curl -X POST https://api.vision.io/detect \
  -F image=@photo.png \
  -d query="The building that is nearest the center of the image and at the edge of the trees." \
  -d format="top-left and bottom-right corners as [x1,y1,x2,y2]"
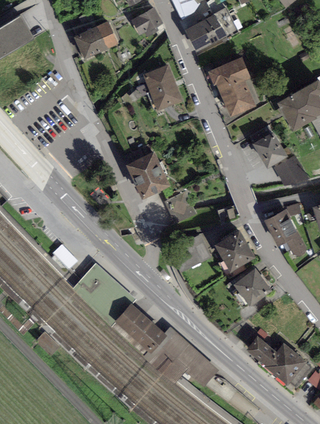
[165,192,197,223]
